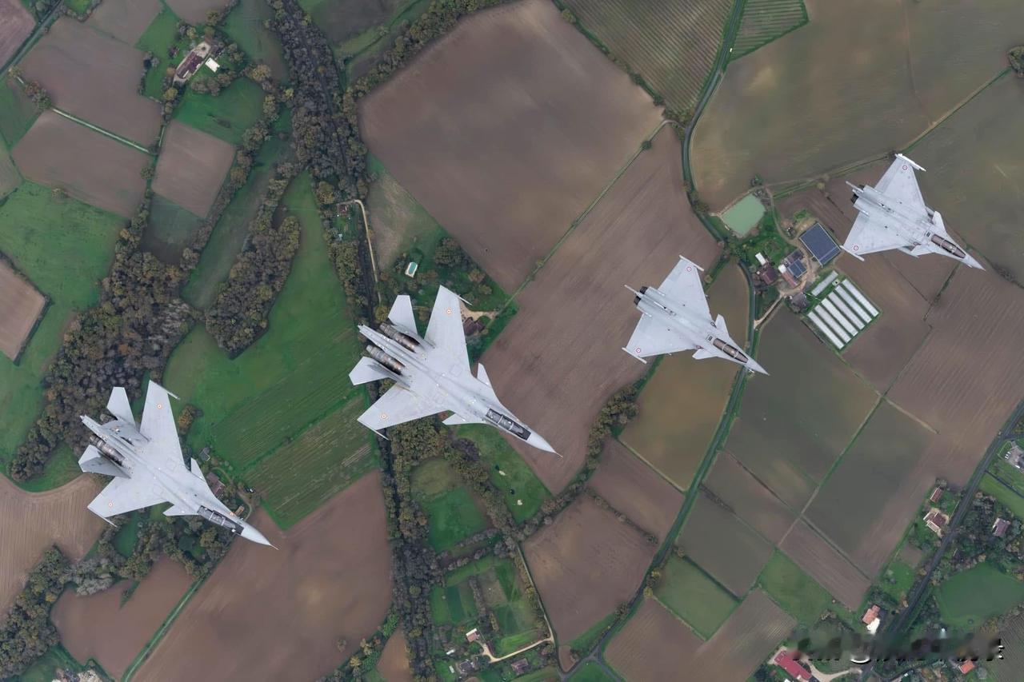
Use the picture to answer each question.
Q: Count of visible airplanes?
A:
four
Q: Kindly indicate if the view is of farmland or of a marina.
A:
farmland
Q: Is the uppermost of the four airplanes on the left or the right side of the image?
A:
right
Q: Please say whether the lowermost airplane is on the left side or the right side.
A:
left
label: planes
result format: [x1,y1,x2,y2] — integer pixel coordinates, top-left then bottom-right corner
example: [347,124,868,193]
[836,151,984,270]
[349,284,561,456]
[621,255,769,376]
[74,378,278,549]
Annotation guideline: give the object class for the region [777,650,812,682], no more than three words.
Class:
building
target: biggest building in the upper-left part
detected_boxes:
[176,49,201,76]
